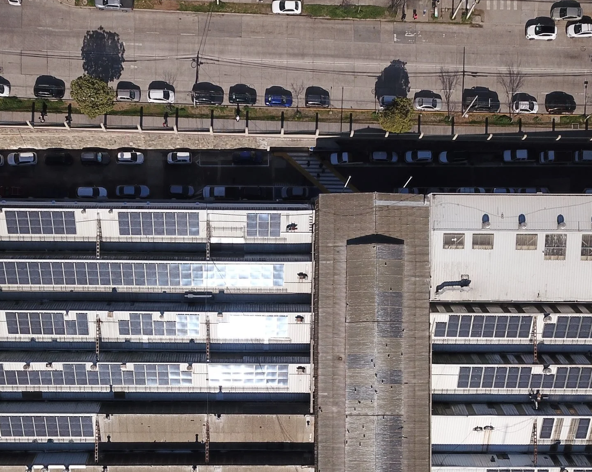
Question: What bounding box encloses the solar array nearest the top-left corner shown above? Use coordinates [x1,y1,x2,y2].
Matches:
[5,212,77,237]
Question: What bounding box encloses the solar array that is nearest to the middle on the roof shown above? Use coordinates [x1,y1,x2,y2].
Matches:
[246,214,281,238]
